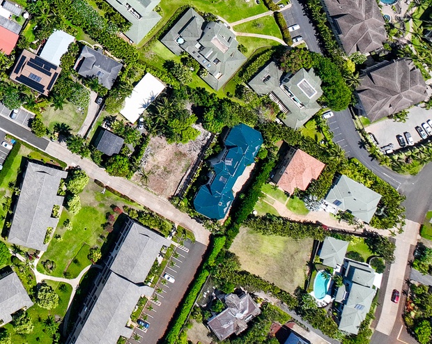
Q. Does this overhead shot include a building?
Yes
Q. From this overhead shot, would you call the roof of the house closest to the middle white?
No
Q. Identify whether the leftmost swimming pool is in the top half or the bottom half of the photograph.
bottom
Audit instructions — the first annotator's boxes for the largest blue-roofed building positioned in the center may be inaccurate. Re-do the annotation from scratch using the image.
[190,123,264,224]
